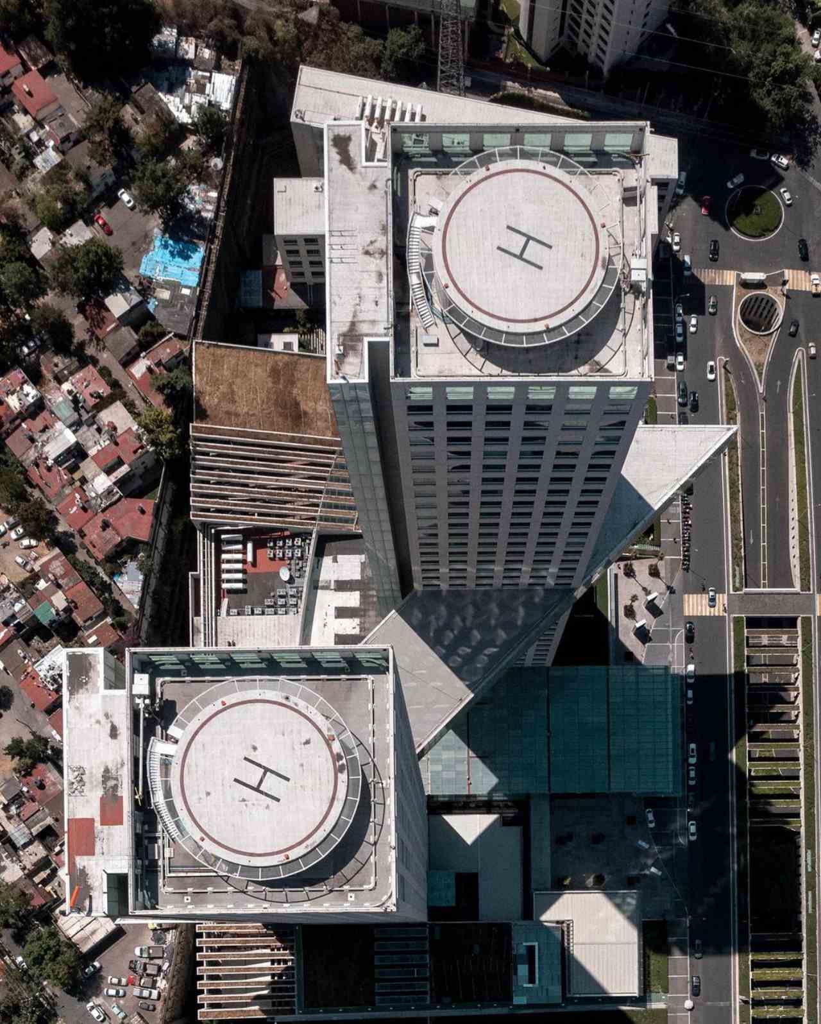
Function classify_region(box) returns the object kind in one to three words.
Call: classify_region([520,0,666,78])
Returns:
building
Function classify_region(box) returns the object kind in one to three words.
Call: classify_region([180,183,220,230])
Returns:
house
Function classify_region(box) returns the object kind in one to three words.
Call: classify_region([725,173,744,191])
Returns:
car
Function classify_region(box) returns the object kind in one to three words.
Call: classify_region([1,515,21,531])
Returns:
car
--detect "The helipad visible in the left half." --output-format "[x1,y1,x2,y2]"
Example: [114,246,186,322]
[140,677,361,880]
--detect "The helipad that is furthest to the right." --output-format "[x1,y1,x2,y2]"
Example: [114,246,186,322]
[404,145,621,346]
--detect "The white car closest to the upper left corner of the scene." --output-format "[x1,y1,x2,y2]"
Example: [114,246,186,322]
[116,188,134,210]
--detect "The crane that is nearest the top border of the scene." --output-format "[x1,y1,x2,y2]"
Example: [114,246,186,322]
[622,159,649,289]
